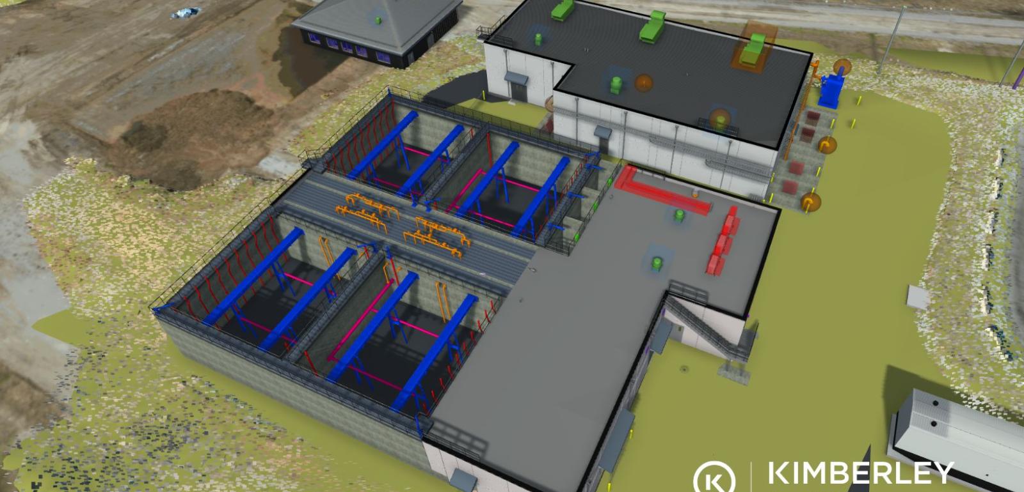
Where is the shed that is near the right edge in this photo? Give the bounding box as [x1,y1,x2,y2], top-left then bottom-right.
[887,389,1024,492]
